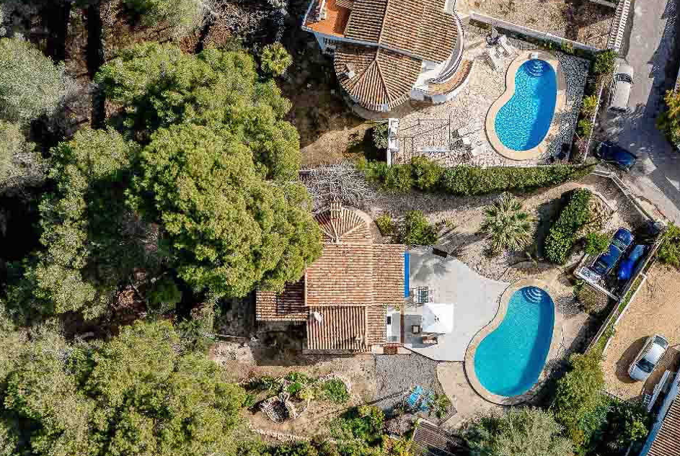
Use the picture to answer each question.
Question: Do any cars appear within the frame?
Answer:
Yes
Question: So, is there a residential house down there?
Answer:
Yes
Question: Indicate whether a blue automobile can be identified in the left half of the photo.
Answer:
No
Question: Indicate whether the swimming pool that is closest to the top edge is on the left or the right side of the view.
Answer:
right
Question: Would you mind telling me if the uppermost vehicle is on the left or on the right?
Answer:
right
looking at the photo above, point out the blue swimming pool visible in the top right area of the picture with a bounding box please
[486,50,566,160]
